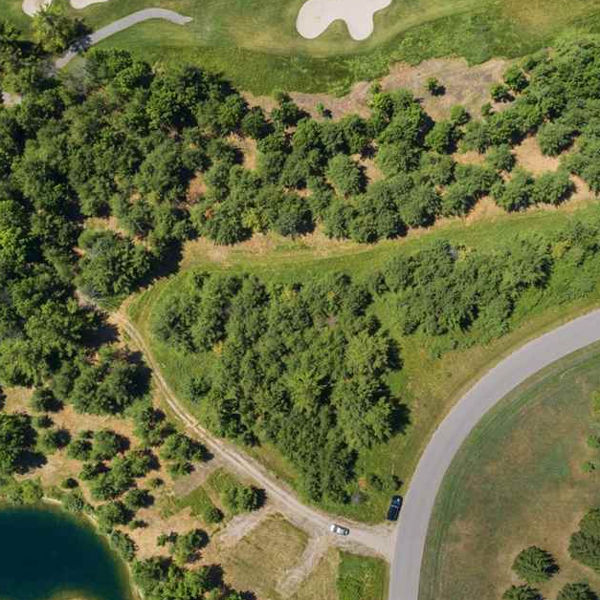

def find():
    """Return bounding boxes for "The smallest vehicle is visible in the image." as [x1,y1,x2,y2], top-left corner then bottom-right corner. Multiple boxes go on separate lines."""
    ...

[330,522,349,535]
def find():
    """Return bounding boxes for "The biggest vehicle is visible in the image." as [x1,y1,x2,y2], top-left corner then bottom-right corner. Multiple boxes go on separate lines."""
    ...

[386,494,403,522]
